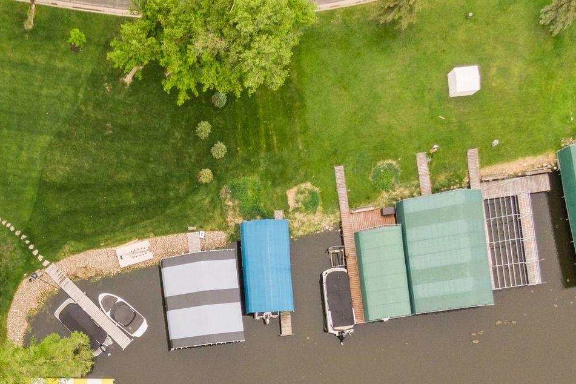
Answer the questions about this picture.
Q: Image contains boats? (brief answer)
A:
Yes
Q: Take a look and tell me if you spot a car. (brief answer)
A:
No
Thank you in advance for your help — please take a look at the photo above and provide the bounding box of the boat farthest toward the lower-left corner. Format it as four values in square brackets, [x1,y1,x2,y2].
[53,299,112,361]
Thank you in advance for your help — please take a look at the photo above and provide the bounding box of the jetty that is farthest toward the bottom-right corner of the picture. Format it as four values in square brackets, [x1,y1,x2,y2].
[514,193,542,286]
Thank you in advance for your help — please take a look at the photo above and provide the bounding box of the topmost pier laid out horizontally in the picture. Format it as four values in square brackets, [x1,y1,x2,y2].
[479,173,551,199]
